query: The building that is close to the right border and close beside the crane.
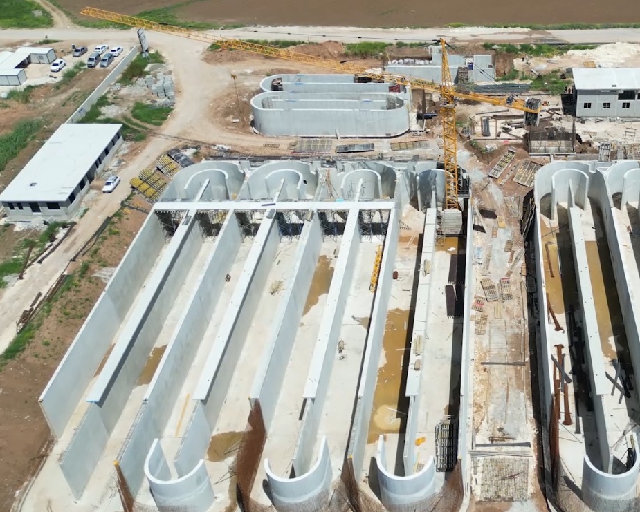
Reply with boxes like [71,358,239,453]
[570,60,640,118]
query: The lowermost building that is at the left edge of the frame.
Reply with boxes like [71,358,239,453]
[0,122,123,220]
